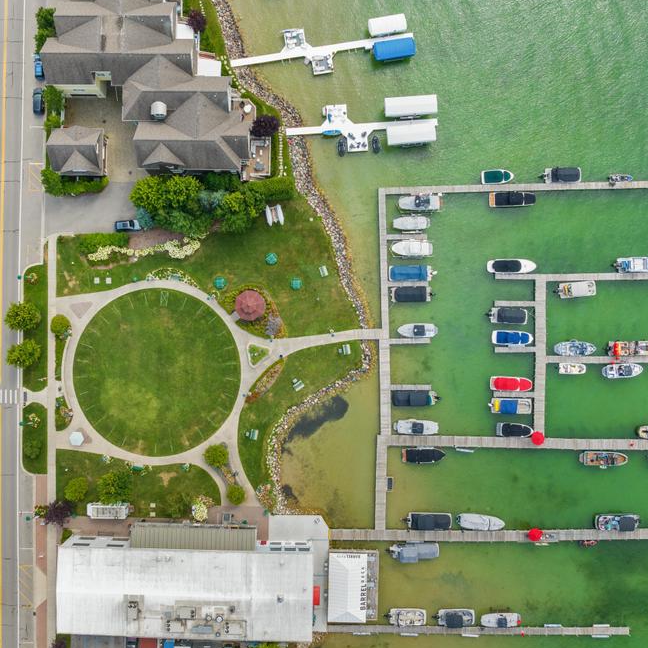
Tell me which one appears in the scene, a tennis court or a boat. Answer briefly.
boat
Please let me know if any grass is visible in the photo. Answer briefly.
Yes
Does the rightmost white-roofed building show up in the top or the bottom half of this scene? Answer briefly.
bottom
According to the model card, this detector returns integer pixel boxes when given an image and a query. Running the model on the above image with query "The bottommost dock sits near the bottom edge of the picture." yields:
[327,623,631,637]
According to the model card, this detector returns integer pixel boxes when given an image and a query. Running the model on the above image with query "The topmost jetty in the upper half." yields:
[230,28,415,77]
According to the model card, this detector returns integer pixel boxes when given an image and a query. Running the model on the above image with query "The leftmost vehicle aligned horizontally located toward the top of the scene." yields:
[114,219,142,232]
